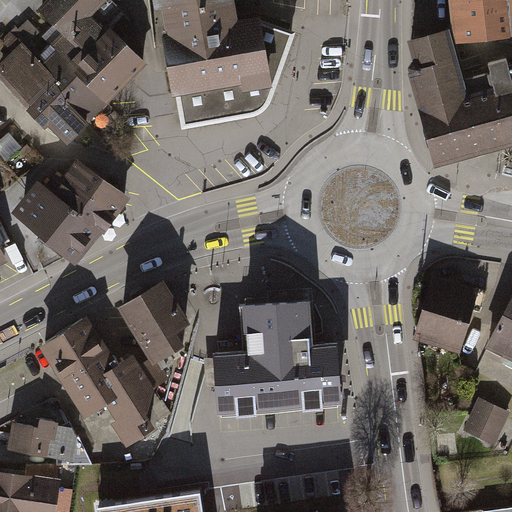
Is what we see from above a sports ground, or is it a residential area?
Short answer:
residential area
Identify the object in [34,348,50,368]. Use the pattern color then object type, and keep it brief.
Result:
red car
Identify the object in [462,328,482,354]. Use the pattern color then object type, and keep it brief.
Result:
white vehicle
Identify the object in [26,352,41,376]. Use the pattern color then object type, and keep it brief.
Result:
black car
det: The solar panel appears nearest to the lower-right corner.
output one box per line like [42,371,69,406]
[324,388,339,404]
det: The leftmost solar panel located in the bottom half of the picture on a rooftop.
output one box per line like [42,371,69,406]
[218,396,234,412]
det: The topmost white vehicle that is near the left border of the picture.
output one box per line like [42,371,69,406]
[4,244,24,270]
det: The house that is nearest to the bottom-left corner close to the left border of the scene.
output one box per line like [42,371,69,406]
[0,464,72,512]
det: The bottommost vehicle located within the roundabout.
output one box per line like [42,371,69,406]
[331,252,352,264]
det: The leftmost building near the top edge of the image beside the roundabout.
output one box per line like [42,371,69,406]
[161,0,294,132]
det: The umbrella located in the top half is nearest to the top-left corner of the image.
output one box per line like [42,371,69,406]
[95,114,108,128]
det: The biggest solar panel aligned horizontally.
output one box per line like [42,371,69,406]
[258,390,300,410]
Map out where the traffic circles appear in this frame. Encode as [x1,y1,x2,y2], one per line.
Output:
[284,130,436,284]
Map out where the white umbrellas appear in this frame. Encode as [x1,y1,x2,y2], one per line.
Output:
[103,228,116,241]
[112,214,125,228]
